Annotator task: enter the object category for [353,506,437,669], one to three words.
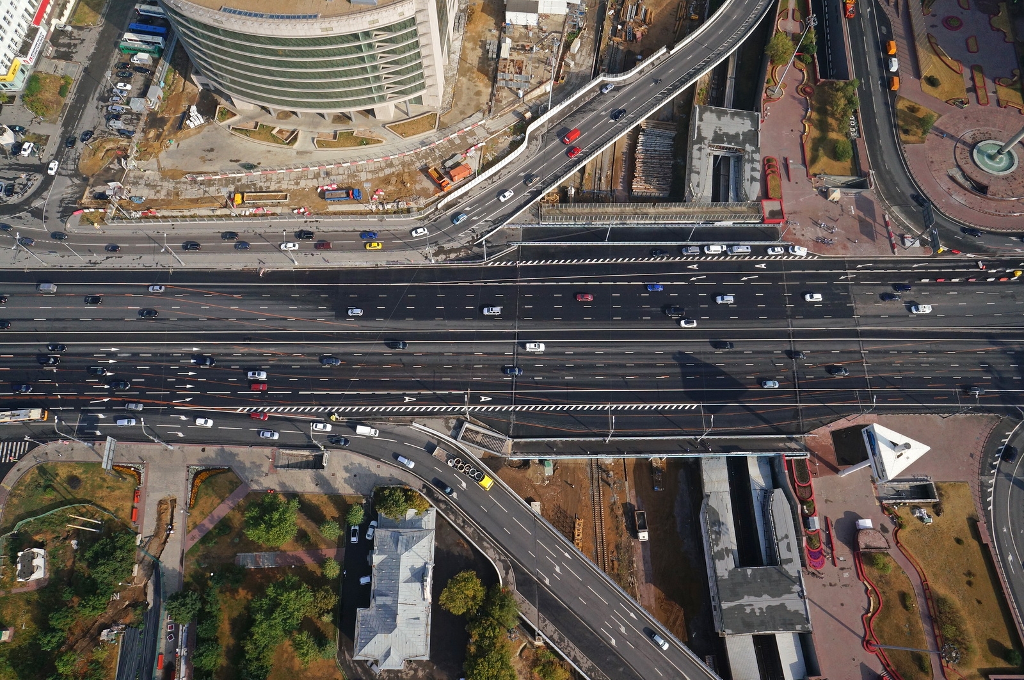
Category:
house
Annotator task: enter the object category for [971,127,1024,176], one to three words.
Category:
fountain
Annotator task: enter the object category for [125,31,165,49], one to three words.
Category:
vehicle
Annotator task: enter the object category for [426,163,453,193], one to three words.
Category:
truck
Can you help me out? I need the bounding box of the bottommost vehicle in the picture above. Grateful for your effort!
[365,660,384,677]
